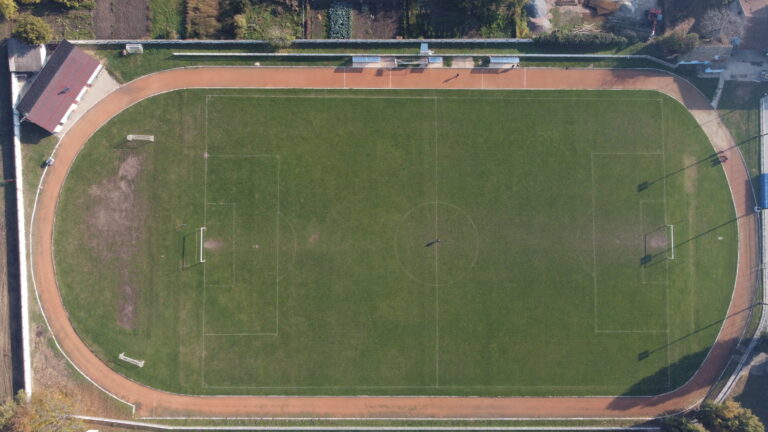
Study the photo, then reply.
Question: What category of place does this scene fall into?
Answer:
sports ground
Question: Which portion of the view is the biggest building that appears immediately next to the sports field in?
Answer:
top left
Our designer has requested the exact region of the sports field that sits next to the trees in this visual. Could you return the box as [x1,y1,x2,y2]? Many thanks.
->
[52,88,738,397]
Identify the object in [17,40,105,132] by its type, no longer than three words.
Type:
building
